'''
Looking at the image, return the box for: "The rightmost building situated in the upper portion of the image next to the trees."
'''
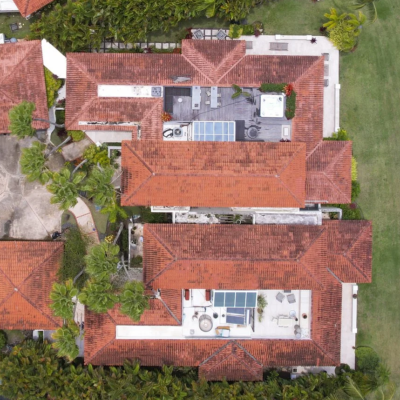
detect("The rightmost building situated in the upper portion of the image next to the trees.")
[42,34,353,225]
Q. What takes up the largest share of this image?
buildings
